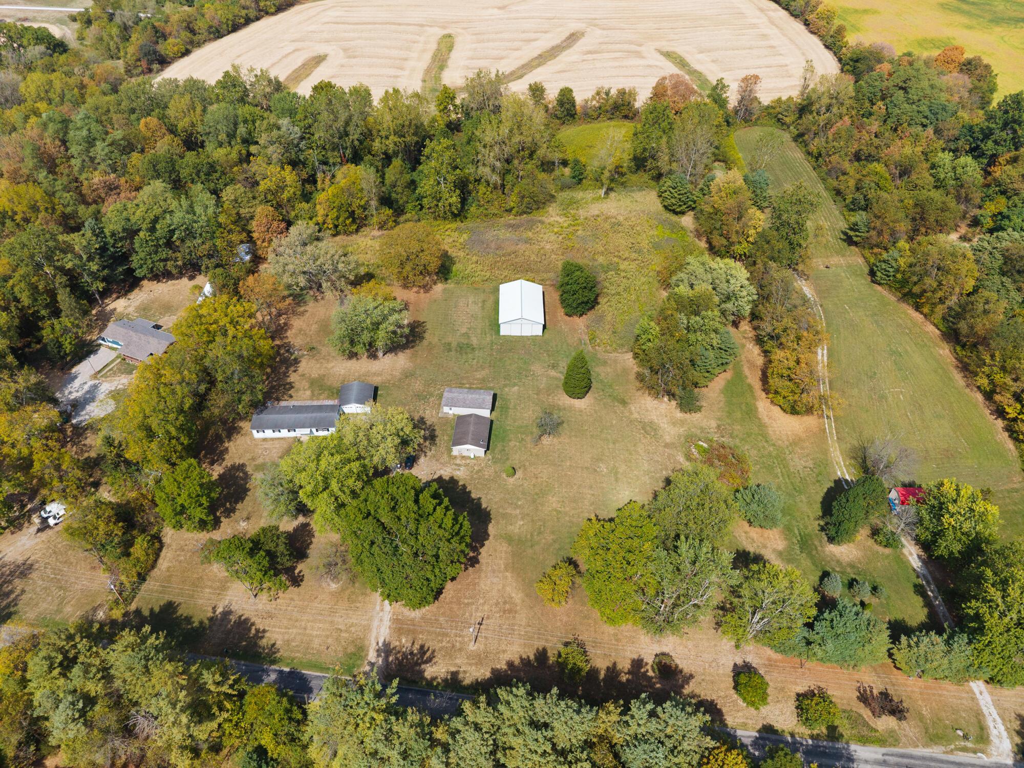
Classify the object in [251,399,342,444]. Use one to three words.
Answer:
house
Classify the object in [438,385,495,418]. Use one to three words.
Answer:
shed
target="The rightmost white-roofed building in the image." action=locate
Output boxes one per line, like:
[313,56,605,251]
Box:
[499,279,544,336]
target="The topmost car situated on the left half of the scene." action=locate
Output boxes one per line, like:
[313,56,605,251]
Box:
[403,452,415,469]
